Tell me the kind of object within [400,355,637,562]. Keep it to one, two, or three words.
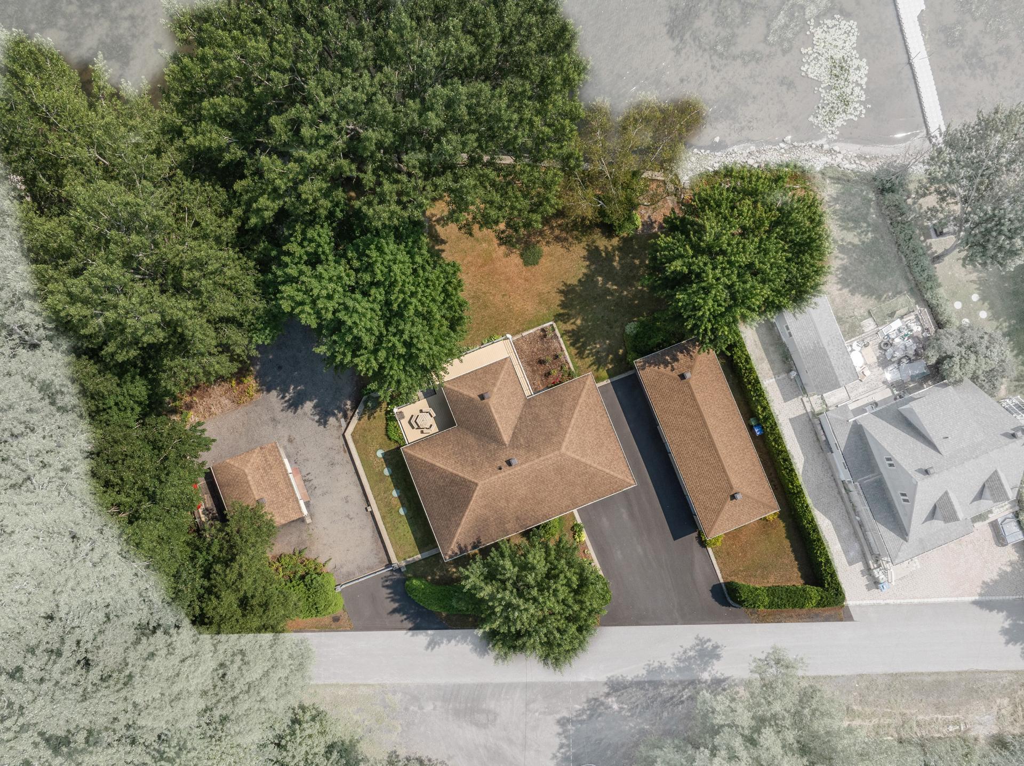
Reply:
house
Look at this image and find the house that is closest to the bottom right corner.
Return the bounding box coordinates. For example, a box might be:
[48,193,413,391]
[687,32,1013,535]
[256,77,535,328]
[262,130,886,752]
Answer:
[811,376,1024,566]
